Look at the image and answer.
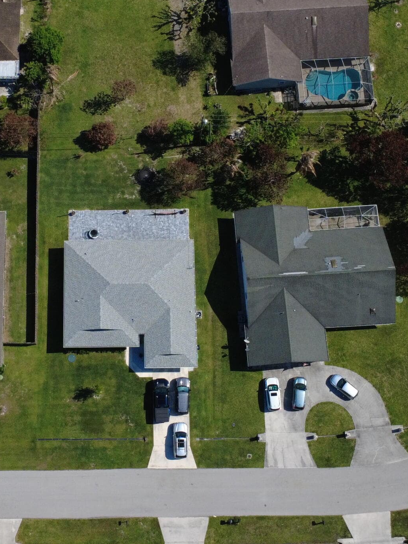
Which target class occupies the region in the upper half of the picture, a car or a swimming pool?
swimming pool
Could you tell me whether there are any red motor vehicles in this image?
No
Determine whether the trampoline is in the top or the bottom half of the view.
top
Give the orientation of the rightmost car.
at an angle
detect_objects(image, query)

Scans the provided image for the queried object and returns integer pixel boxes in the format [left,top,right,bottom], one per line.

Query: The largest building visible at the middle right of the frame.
[233,204,395,367]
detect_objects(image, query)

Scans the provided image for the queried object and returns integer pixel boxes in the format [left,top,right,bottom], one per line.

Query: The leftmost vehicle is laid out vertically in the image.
[153,379,172,425]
